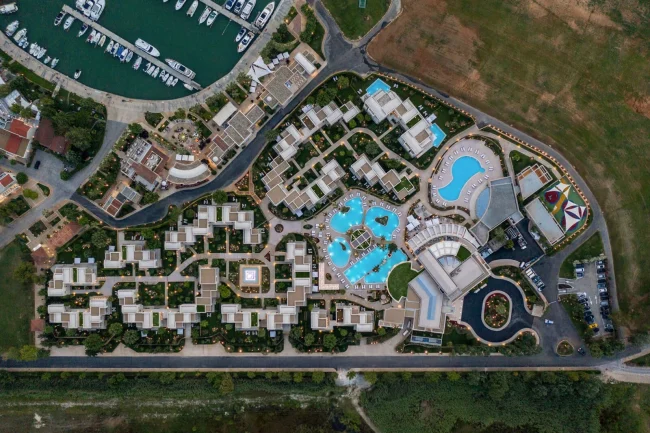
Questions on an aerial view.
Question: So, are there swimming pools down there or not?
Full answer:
Yes, a swimming pool appears in the view.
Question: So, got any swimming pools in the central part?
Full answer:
Yes, the scene does show a swimming pool in the central part.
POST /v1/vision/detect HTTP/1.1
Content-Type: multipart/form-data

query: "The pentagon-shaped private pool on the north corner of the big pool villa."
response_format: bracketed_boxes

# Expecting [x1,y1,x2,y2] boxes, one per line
[366,77,392,97]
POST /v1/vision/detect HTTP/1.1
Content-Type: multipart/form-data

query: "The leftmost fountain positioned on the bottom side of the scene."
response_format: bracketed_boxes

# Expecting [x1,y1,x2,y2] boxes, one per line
[239,265,262,287]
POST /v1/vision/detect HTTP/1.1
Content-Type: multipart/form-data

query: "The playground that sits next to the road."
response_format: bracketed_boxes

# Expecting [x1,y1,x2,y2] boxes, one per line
[542,177,588,236]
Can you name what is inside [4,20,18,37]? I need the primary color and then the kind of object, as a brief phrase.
white boat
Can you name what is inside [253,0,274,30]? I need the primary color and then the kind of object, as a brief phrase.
white boat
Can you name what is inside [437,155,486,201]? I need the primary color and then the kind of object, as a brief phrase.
blue swimming pool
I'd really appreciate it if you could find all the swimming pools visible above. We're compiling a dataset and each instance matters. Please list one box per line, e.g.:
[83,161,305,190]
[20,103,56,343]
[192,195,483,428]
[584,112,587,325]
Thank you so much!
[364,206,400,241]
[343,246,408,285]
[329,196,364,234]
[437,155,486,201]
[366,77,392,97]
[429,123,446,147]
[328,237,351,268]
